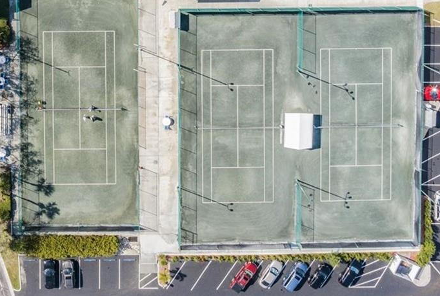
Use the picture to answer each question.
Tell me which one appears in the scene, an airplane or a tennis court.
tennis court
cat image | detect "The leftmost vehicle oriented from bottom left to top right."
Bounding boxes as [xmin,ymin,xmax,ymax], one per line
[229,261,255,294]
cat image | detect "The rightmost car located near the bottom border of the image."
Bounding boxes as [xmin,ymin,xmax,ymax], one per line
[338,257,364,289]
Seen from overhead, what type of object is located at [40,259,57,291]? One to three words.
car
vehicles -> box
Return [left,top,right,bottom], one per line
[282,261,308,294]
[338,257,364,289]
[257,261,283,291]
[40,259,57,291]
[425,86,440,102]
[434,190,440,222]
[229,261,255,294]
[61,259,75,291]
[308,261,332,290]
